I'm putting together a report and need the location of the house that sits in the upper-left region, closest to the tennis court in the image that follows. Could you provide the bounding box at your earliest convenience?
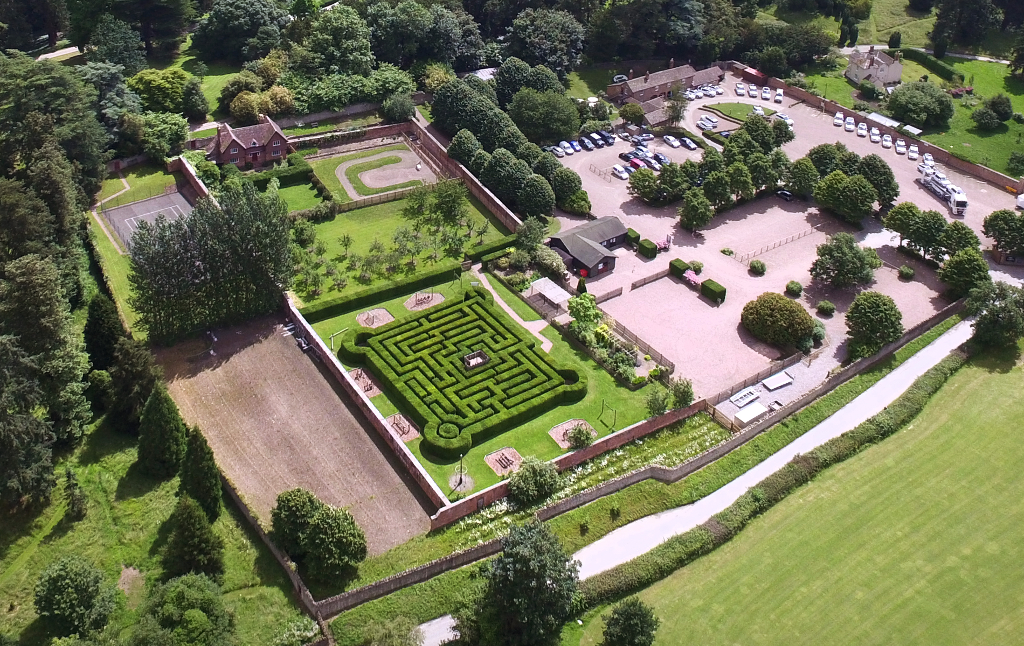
[200,112,290,166]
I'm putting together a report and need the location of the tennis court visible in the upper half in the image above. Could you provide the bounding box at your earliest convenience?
[100,191,203,257]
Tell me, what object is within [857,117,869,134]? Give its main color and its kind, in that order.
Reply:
white vehicle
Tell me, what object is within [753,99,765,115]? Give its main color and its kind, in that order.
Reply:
white vehicle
